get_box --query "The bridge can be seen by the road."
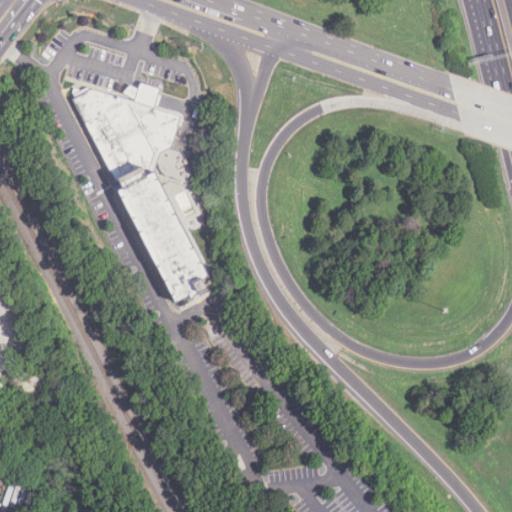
[449,72,512,150]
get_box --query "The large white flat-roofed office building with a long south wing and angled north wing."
[72,82,208,302]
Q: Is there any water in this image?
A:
No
